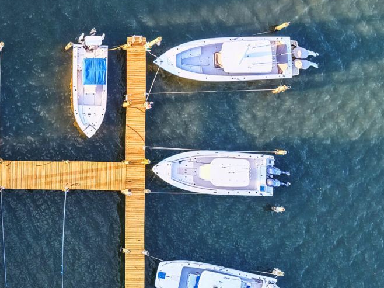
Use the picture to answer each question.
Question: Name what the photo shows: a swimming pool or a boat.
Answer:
boat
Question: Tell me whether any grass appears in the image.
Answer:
No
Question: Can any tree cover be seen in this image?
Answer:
No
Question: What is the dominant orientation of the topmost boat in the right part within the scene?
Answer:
from side to side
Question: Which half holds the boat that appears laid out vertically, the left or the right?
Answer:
left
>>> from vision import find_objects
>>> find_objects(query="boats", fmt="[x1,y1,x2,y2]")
[155,260,278,288]
[154,37,324,82]
[154,149,295,198]
[71,25,108,138]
